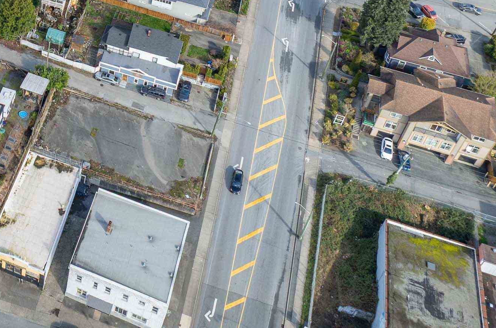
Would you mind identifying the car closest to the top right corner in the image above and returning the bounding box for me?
[455,2,484,19]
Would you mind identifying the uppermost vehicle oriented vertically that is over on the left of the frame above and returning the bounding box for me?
[180,77,193,106]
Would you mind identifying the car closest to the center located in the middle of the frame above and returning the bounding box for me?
[230,169,244,198]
